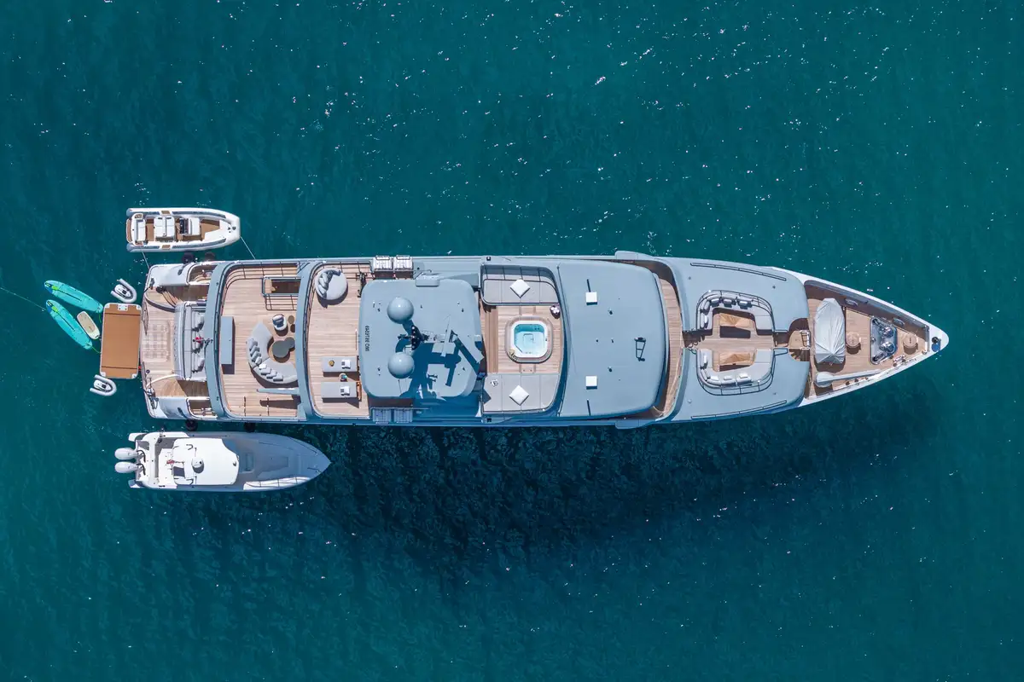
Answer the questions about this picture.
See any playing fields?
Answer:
No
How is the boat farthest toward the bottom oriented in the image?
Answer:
horizontally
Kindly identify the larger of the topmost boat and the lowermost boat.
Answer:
the lowermost boat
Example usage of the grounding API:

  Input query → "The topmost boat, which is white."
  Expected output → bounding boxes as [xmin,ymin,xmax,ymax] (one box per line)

[126,207,242,253]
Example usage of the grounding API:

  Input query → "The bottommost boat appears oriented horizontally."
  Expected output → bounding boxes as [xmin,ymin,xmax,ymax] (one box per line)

[114,429,331,492]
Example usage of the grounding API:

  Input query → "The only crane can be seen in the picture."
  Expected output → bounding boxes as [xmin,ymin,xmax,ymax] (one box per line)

[813,369,880,385]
